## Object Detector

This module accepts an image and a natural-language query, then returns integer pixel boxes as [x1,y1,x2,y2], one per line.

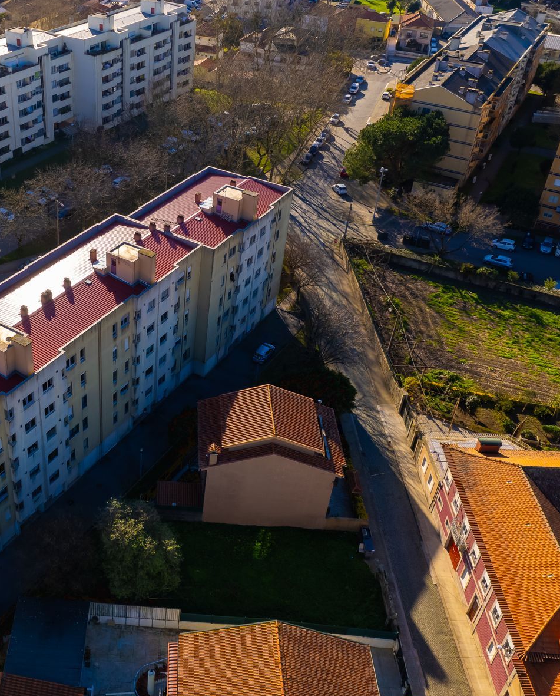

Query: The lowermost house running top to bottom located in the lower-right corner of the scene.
[432,458,560,696]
